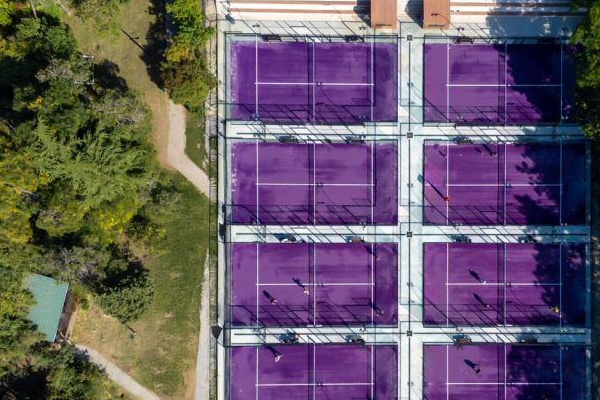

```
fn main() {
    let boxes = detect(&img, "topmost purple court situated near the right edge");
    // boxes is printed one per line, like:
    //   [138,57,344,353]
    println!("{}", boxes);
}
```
[422,34,587,126]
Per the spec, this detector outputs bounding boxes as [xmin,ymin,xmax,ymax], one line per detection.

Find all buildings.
[370,0,398,31]
[423,0,451,31]
[14,272,77,342]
